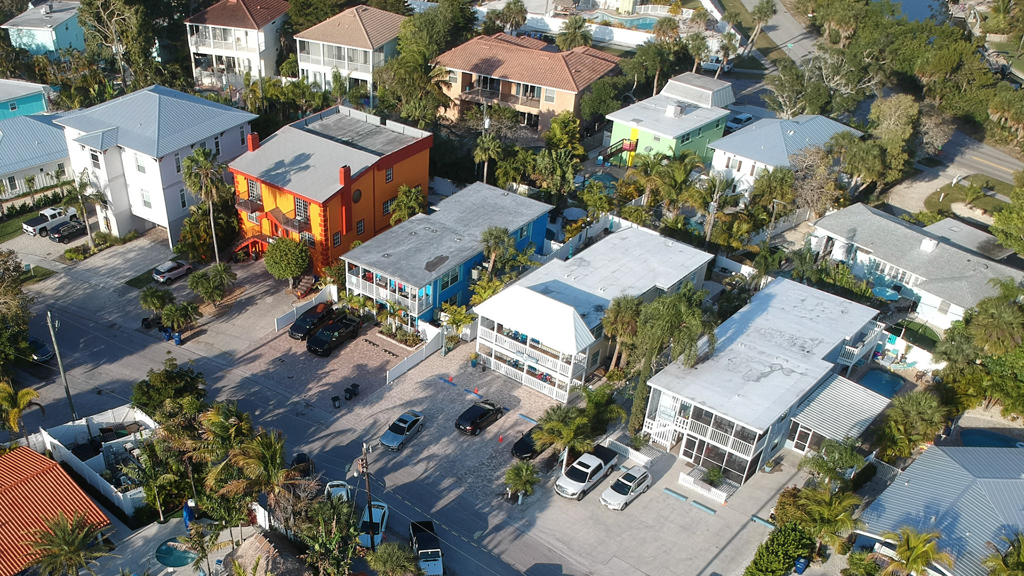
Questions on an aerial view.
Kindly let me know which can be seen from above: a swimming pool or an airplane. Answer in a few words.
swimming pool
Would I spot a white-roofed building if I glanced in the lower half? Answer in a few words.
Yes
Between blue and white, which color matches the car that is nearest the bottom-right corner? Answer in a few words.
white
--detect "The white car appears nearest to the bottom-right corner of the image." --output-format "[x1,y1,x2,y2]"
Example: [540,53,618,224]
[606,464,653,507]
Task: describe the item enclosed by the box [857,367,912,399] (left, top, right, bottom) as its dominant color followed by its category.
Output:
blue swimming pool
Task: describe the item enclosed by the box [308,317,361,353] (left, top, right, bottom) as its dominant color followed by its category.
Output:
black truck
